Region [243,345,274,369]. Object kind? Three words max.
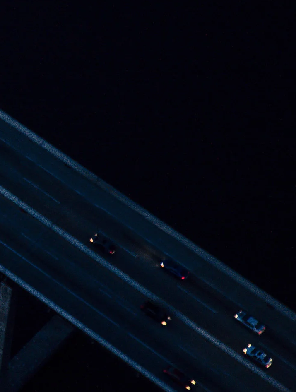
car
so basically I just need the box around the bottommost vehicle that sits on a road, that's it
[163,364,194,389]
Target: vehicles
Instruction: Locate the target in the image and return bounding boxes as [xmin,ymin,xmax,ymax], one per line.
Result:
[160,259,190,281]
[163,364,194,389]
[139,299,170,324]
[234,310,266,335]
[243,345,274,369]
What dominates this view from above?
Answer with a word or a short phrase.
water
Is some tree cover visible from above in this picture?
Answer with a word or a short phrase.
No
